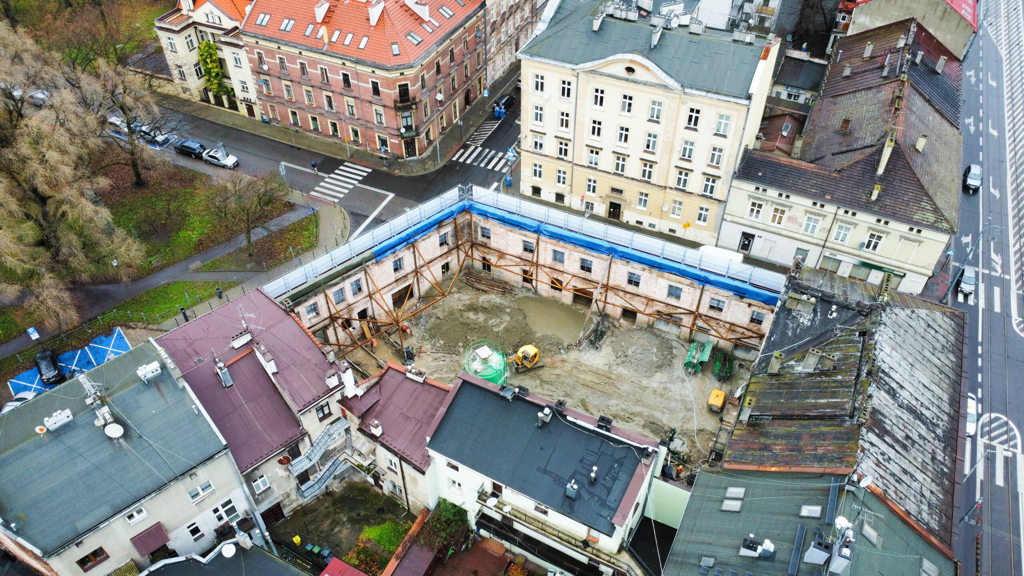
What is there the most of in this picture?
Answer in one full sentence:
The bulk of the photo consists of buildings.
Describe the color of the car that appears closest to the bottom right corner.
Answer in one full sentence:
From above, the car that appears closest to the bottom right corner appears white.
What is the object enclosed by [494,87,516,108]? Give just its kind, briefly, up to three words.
car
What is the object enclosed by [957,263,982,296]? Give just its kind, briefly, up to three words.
car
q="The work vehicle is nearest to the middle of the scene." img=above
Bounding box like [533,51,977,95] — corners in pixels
[504,339,544,370]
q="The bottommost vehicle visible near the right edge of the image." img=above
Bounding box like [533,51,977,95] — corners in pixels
[965,392,988,437]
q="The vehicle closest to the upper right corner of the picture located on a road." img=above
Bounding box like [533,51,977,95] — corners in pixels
[964,162,985,189]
